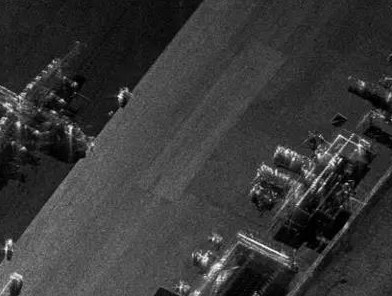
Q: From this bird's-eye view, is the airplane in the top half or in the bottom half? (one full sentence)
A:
The airplane sits in the top half of the picture.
